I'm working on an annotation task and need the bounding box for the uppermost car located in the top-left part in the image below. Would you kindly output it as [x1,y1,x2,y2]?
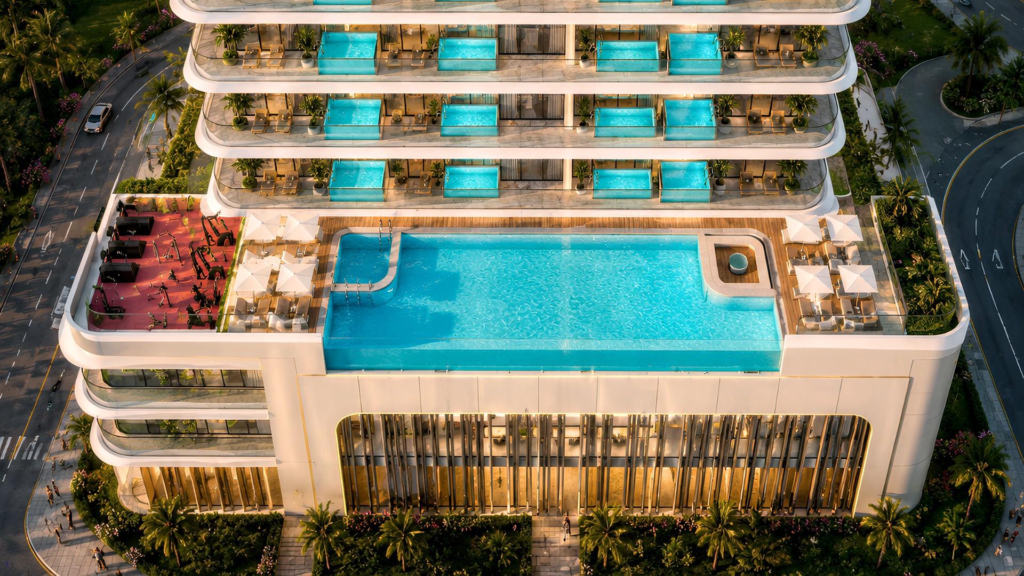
[81,102,118,135]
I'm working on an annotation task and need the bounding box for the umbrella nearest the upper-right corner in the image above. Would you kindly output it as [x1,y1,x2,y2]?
[823,218,865,265]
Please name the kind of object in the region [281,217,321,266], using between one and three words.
umbrella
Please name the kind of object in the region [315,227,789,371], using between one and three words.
swimming pool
